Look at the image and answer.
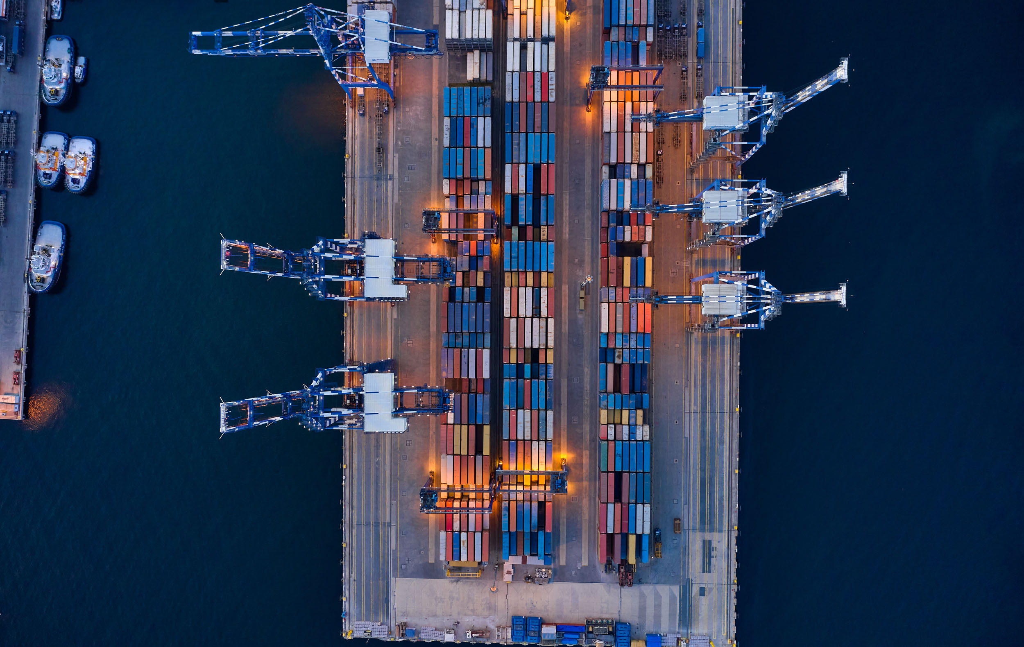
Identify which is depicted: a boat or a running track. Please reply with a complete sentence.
This aerial view contains a boat.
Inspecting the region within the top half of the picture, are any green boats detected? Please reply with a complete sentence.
No, no green boat can be made out within the top half of the picture.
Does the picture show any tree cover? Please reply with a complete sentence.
No, the scene doesn't show any tree cover.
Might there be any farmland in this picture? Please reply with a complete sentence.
No, there is no farmland in the image.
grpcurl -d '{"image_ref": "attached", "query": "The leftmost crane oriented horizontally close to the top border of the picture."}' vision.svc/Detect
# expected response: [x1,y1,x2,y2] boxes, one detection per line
[188,0,448,110]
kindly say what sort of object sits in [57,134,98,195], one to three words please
boat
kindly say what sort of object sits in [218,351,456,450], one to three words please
container crane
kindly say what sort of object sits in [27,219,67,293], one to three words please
boat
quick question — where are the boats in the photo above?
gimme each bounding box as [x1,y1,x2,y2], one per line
[27,219,67,293]
[36,33,75,106]
[29,129,70,189]
[75,56,89,84]
[57,134,98,195]
[49,0,63,21]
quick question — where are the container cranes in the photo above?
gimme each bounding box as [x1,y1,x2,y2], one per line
[420,470,495,515]
[219,226,457,310]
[630,58,857,178]
[628,268,848,340]
[588,62,667,112]
[629,169,856,258]
[188,0,448,110]
[495,455,569,498]
[423,206,498,244]
[218,351,456,450]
